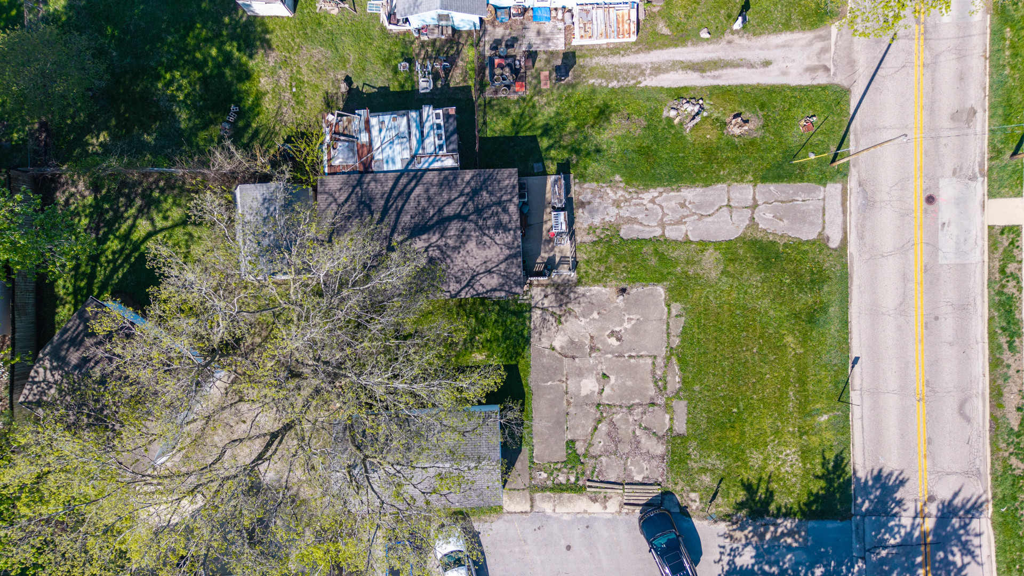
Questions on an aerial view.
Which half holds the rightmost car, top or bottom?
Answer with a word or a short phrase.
bottom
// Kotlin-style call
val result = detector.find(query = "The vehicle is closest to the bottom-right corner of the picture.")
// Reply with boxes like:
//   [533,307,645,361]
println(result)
[643,506,696,576]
